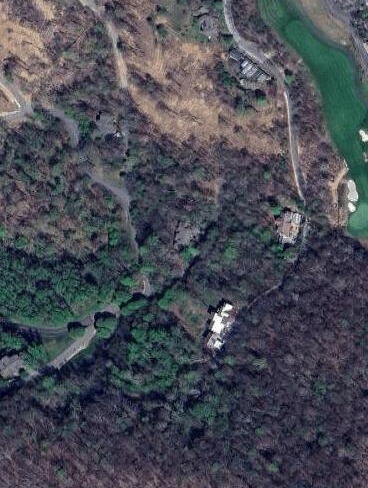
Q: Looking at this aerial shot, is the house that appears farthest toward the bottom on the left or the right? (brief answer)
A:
left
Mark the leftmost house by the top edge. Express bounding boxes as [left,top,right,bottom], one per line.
[199,12,220,37]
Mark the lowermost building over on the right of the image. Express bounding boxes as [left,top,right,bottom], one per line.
[207,303,238,346]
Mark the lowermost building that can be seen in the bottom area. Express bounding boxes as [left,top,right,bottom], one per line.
[1,354,24,377]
